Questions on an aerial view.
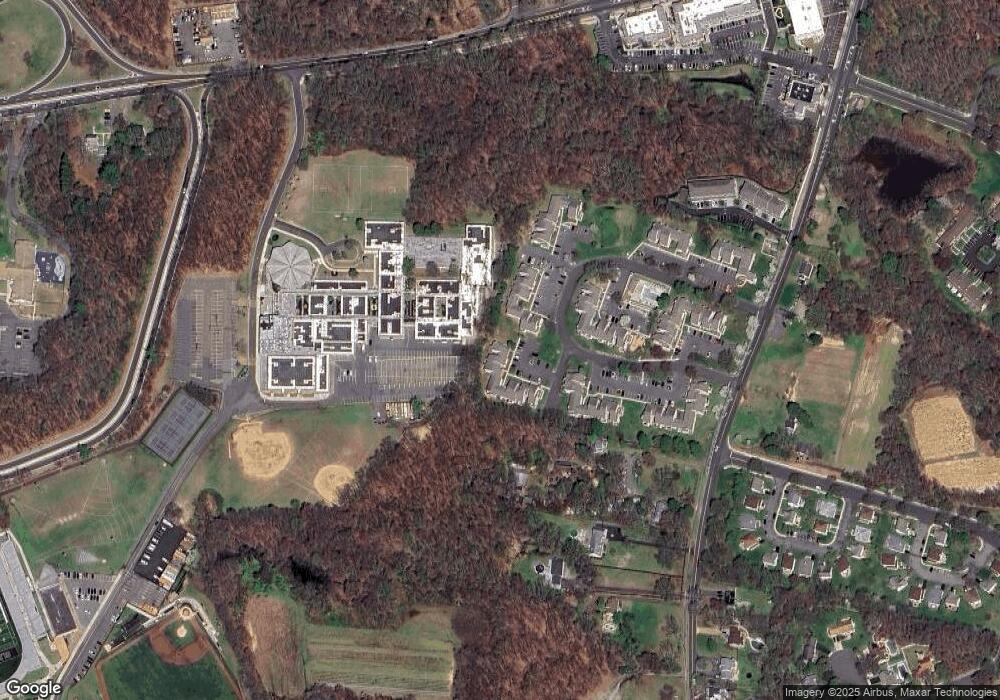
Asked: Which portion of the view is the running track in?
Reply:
bottom left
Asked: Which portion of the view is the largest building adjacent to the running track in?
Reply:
bottom left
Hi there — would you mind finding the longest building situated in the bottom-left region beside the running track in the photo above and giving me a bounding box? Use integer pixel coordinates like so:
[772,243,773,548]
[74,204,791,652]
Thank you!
[41,585,78,638]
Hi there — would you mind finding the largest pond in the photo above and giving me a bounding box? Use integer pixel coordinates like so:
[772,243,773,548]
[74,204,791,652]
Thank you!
[861,142,946,201]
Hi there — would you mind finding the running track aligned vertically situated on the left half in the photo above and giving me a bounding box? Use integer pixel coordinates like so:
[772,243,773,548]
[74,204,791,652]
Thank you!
[0,547,44,695]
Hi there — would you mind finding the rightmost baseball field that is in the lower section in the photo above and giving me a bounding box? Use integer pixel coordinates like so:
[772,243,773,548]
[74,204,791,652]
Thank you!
[314,465,355,507]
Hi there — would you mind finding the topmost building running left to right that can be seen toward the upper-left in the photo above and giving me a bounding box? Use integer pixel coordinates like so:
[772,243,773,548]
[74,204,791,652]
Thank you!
[205,4,237,23]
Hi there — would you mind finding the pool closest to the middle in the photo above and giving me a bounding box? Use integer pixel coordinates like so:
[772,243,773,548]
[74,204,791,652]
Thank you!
[633,279,668,308]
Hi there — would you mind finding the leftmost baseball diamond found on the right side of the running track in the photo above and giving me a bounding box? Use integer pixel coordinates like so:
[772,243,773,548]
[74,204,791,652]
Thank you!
[96,605,247,700]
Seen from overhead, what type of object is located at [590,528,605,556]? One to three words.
house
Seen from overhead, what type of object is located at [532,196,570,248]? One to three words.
building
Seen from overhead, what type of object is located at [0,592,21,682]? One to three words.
sports field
